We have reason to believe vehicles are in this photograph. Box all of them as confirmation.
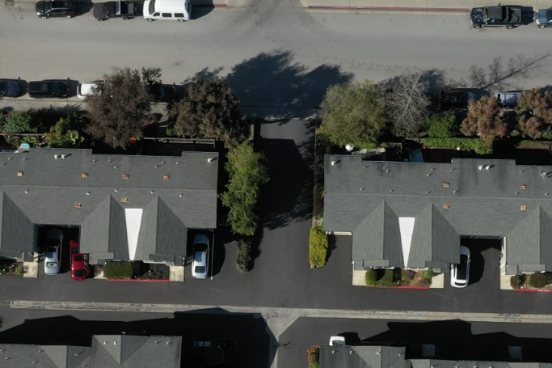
[142,0,192,22]
[189,234,211,279]
[492,89,532,110]
[42,230,63,277]
[327,332,347,344]
[93,0,139,20]
[69,235,89,279]
[35,0,78,19]
[0,77,26,98]
[450,246,472,289]
[533,5,552,29]
[28,77,71,99]
[436,88,487,110]
[77,78,104,99]
[469,4,523,28]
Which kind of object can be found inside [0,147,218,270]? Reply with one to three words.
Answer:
house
